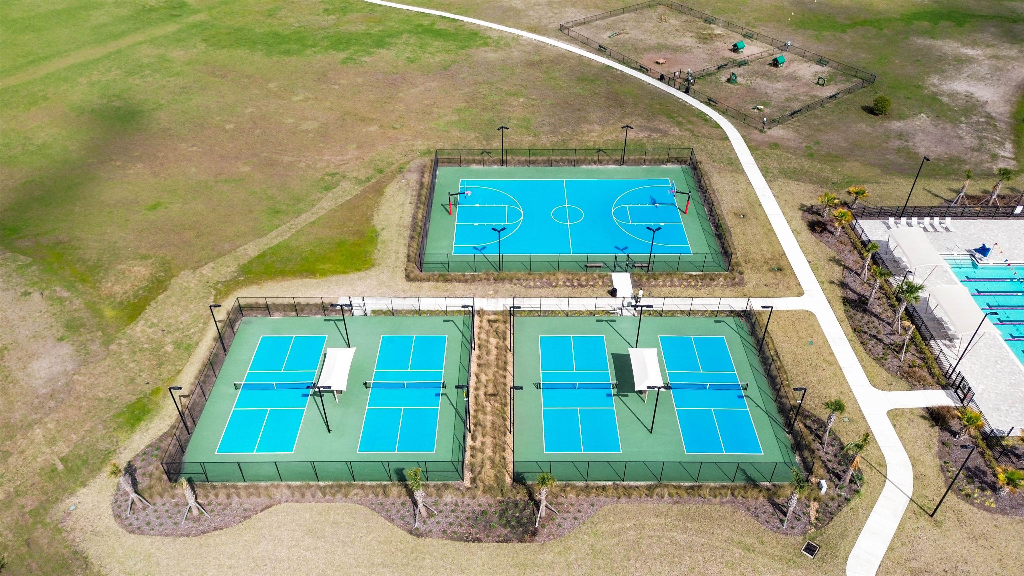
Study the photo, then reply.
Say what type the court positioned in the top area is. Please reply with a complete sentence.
Looking closely, the court positioned in the top area is a basketball court.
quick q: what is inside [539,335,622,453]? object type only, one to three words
sports court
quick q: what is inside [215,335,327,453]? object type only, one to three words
sports court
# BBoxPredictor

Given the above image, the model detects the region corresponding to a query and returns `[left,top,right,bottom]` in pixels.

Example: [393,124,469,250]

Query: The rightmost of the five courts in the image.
[659,335,763,453]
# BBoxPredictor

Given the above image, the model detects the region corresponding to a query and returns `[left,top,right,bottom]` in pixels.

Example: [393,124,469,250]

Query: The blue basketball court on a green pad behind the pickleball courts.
[421,166,729,273]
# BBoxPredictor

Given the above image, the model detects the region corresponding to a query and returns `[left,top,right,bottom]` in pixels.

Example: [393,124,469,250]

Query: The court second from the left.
[357,335,447,453]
